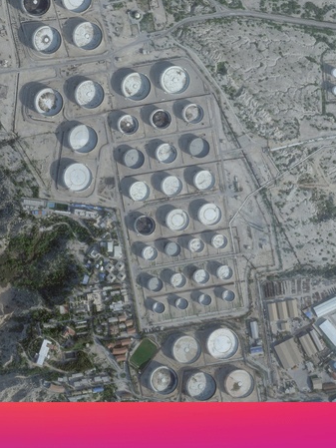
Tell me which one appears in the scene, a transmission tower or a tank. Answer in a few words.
tank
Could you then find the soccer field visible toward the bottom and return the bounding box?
[128,335,160,370]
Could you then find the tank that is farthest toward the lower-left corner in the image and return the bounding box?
[150,366,179,400]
